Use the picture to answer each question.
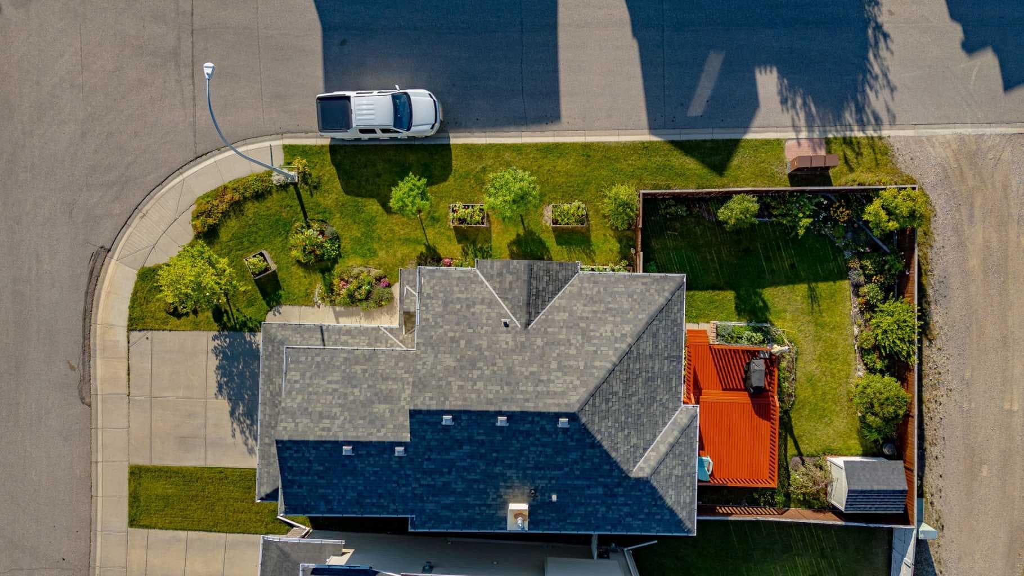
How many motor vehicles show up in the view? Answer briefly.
1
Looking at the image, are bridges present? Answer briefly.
No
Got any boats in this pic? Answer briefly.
No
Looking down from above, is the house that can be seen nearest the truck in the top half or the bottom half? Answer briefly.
bottom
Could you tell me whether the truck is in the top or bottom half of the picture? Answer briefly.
top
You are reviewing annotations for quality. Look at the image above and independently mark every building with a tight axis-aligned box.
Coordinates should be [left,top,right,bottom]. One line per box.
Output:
[255,260,700,537]
[827,453,911,514]
[258,531,663,576]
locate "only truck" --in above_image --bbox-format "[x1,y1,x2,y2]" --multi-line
[316,85,444,142]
